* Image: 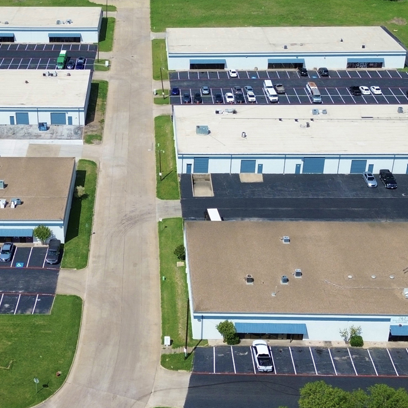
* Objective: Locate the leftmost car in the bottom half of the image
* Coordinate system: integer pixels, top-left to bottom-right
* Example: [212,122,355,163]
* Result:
[0,244,14,263]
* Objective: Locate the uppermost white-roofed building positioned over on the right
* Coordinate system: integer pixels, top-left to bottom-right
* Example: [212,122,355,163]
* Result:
[166,27,407,68]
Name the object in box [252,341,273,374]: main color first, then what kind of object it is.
white truck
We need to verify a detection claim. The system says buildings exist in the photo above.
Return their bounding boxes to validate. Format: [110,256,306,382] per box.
[166,27,407,68]
[0,156,75,244]
[0,69,90,125]
[0,5,101,41]
[184,221,408,341]
[172,104,408,174]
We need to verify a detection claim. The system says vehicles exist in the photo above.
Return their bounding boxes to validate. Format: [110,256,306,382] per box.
[0,244,14,263]
[183,94,192,103]
[45,240,60,263]
[235,92,244,103]
[225,94,234,103]
[263,80,275,90]
[379,170,397,187]
[360,87,370,96]
[56,46,67,66]
[247,90,256,102]
[67,61,74,69]
[75,62,83,69]
[362,174,377,187]
[229,70,237,78]
[275,84,285,95]
[310,87,323,101]
[78,57,85,65]
[194,94,202,103]
[297,68,309,78]
[252,341,273,374]
[201,86,209,95]
[244,86,253,95]
[214,95,223,103]
[266,87,278,101]
[369,87,381,96]
[206,210,222,221]
[348,85,362,96]
[319,67,328,76]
